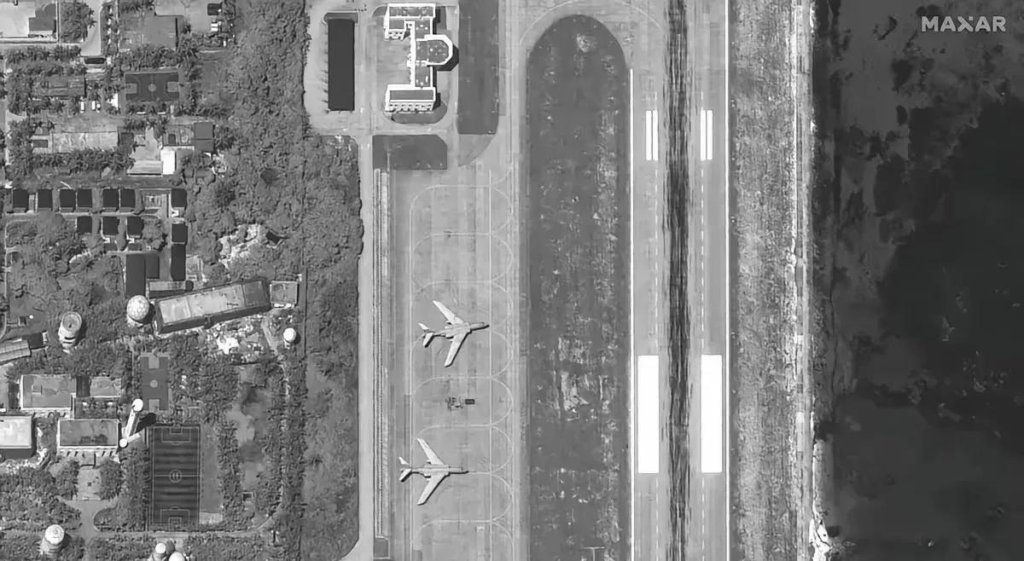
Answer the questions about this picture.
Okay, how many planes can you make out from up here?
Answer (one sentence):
I count 2 planes.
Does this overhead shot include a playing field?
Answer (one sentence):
Yes, you can see a playing field in this photo.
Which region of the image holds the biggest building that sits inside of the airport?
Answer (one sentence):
You can find the biggest building that sits inside of the airport in the top area of the picture.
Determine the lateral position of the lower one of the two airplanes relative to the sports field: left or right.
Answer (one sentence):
Looking at the photo, the lower one of the two airplanes lies to the right of the sports field.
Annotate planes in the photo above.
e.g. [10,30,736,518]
[398,438,468,505]
[418,302,488,367]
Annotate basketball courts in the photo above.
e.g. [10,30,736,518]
[141,354,169,411]
[124,72,180,101]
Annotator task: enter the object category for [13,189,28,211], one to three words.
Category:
house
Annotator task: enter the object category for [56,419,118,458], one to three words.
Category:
building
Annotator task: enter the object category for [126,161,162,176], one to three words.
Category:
building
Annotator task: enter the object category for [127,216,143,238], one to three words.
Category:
house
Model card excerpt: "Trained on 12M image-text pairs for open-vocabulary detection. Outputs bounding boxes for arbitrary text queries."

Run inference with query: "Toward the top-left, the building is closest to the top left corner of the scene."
[28,3,55,33]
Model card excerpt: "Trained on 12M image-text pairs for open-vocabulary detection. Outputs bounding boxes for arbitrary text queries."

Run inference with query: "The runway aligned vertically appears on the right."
[629,0,730,561]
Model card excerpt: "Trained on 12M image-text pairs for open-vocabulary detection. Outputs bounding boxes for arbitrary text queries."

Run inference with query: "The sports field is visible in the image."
[147,424,199,529]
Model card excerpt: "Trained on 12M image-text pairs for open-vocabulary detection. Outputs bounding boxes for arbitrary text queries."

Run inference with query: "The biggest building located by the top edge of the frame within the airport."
[386,3,453,113]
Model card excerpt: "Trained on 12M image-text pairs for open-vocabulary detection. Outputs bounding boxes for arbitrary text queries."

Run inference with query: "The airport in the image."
[305,0,730,561]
